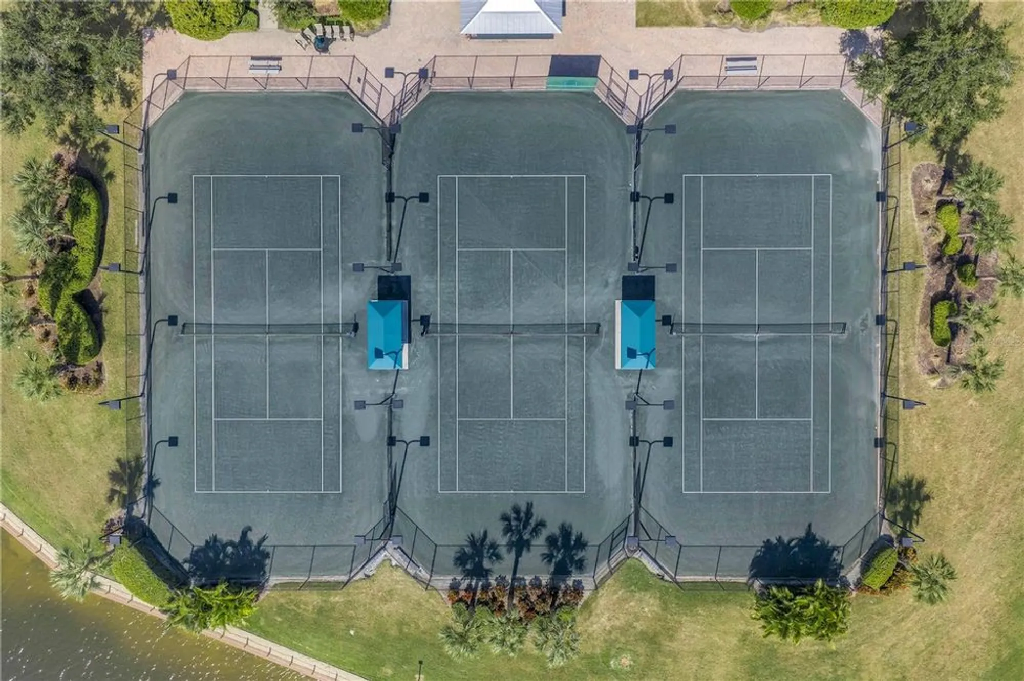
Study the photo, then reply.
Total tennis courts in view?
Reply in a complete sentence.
Altogether the scene contains 3 tennis courts.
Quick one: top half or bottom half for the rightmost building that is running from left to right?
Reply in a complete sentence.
The top half of the photo is where the rightmost building that is running from left to right is.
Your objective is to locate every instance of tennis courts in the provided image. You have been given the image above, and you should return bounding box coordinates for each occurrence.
[145,89,390,579]
[634,88,882,579]
[389,89,634,579]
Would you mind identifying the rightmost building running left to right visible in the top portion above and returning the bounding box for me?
[461,0,562,41]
